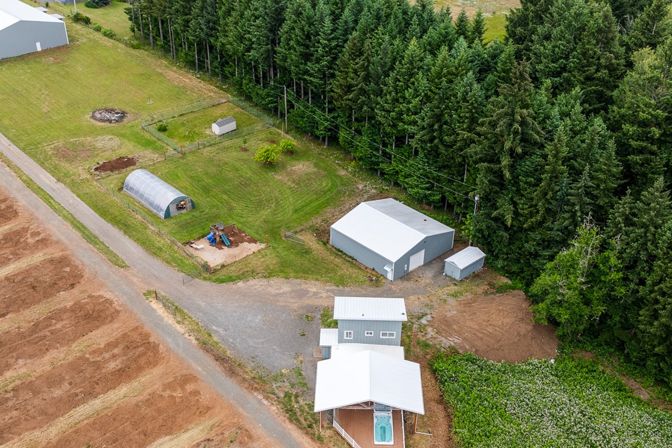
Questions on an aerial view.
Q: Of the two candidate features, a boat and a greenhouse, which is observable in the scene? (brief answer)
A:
greenhouse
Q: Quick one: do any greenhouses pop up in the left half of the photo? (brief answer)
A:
Yes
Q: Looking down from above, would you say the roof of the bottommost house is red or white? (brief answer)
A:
white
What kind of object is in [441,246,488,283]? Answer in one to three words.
shed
